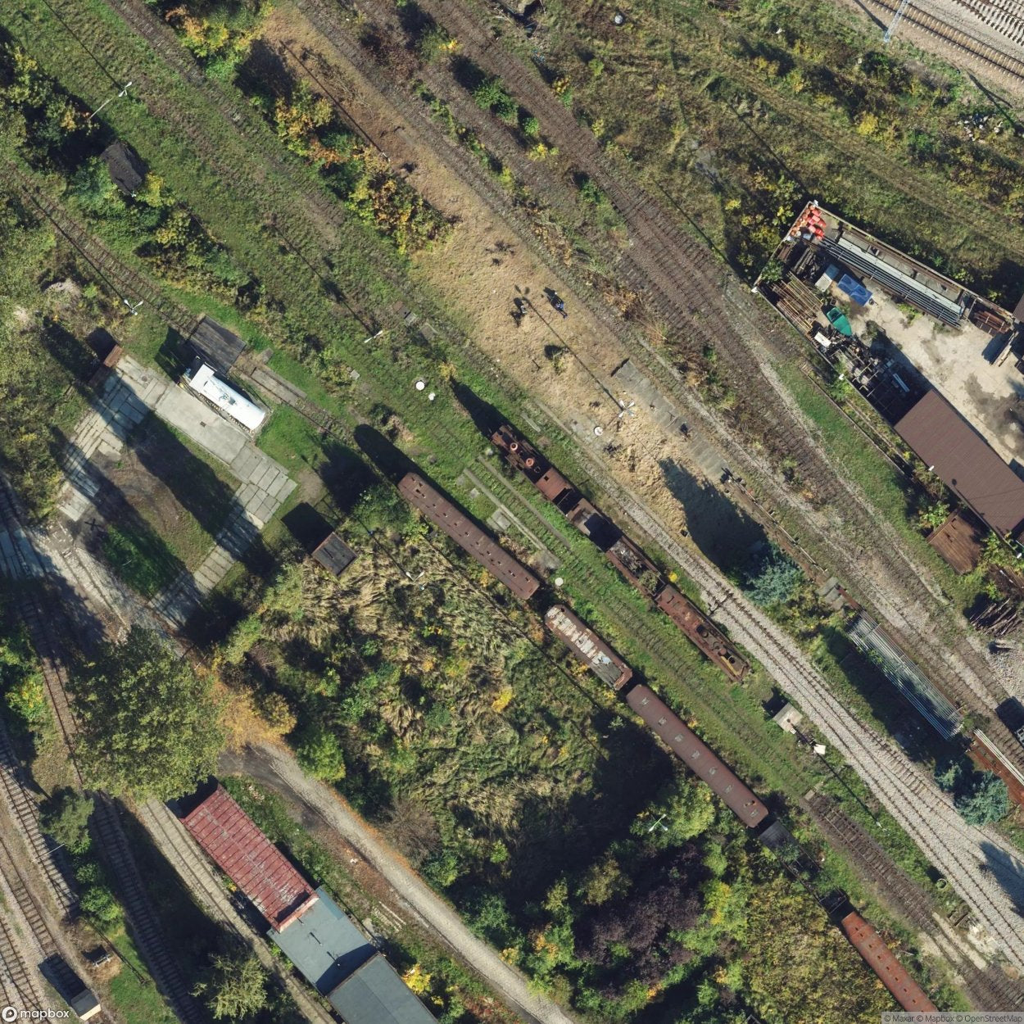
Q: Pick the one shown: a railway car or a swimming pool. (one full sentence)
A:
Of the two, only a railway car appears.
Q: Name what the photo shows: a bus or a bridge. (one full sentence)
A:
Of the two, only a bus appears.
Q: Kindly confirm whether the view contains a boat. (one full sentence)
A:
Yes, the photo shows a boat.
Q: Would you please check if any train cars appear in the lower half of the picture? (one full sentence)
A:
Yes, a train car appears in the lower half of the picture.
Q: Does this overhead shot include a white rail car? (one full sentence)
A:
Yes, there's a white rail car here.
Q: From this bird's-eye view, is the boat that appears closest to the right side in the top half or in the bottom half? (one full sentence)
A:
The boat that appears closest to the right side is in the top half of the image.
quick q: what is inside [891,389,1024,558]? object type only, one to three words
shed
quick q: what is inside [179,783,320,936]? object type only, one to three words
building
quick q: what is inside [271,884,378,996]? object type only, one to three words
building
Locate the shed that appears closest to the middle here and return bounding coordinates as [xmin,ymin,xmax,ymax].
[311,531,358,576]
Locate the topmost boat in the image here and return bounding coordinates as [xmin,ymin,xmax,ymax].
[823,302,851,336]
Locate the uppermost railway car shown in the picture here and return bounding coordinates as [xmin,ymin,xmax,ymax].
[179,364,265,435]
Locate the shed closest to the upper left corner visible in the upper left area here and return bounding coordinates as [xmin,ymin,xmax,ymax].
[101,140,151,196]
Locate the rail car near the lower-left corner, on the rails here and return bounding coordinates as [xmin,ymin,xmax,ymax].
[71,986,104,1018]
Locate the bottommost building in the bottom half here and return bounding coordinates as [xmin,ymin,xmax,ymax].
[328,949,442,1024]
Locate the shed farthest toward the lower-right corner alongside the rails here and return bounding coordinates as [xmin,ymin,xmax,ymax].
[772,703,803,731]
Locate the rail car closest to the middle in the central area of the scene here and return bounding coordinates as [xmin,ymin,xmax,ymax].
[486,422,572,504]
